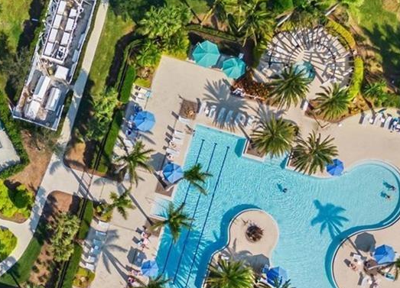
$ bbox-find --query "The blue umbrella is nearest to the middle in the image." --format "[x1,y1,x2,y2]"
[162,164,181,183]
